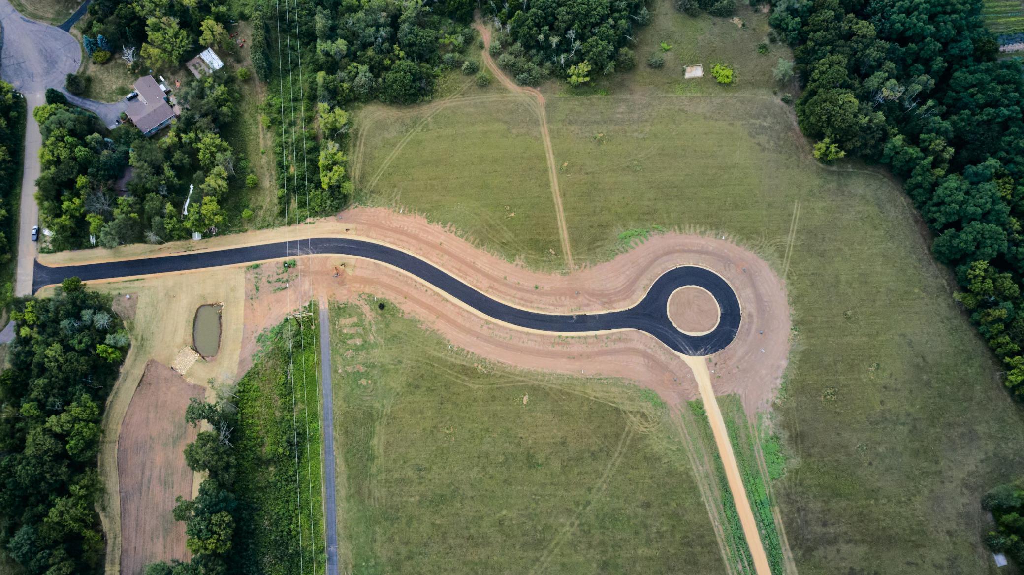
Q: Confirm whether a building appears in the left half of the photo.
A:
Yes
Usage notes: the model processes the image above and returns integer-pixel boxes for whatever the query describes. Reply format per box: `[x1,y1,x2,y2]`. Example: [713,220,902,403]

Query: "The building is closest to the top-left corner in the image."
[128,76,175,135]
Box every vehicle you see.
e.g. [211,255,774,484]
[31,227,40,240]
[125,91,139,100]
